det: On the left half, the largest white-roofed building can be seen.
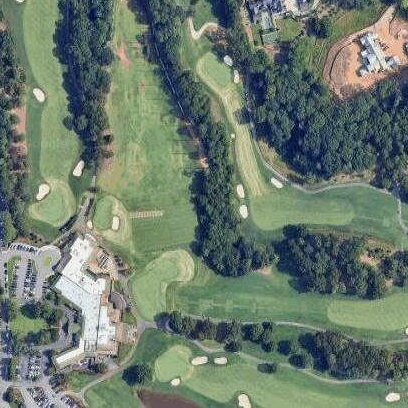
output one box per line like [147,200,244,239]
[52,230,119,364]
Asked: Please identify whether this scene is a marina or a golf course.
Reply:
golf course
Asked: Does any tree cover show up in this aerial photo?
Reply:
Yes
